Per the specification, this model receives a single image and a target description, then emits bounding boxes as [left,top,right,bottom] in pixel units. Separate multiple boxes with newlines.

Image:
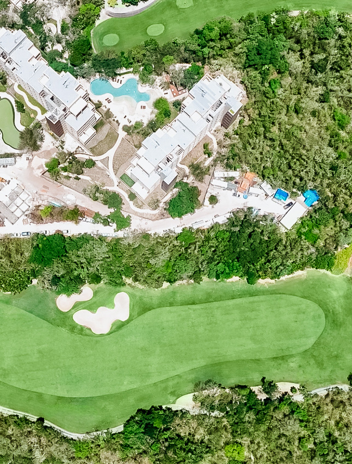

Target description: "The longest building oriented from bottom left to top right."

[120,73,245,200]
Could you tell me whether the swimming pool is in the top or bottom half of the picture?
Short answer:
top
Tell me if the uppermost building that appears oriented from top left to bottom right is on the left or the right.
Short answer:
left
